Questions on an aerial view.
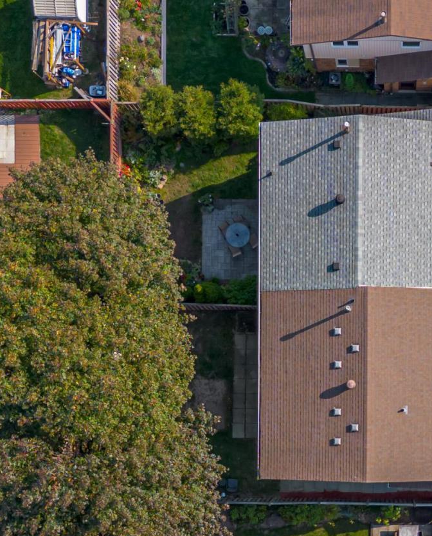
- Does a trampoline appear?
No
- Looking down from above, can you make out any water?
No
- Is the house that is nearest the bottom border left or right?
right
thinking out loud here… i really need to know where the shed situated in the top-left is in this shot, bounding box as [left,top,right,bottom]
[33,0,104,29]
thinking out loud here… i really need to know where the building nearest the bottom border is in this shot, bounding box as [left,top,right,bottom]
[255,287,432,491]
